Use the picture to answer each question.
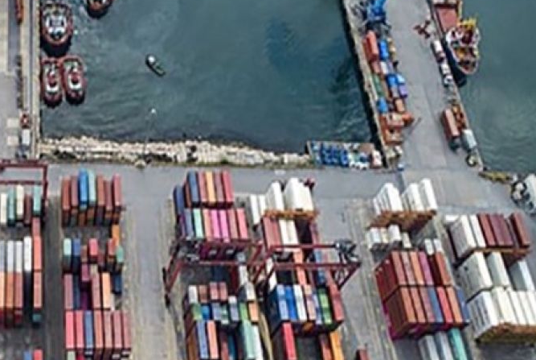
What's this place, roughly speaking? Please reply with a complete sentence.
This image shows a port.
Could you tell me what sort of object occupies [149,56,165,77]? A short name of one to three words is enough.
boat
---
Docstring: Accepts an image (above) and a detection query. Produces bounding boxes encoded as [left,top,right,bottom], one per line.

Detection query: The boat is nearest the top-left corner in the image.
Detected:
[40,6,73,57]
